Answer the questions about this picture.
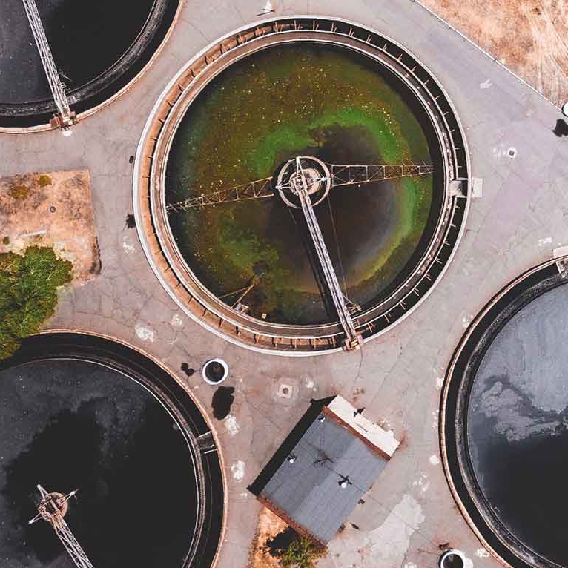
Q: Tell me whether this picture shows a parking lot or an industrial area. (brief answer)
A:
industrial area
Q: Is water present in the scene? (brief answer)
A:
Yes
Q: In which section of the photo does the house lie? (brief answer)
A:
bottom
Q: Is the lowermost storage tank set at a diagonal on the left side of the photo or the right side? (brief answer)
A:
left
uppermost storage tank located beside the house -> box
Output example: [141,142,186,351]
[133,14,472,356]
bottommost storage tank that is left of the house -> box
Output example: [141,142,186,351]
[0,329,228,568]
